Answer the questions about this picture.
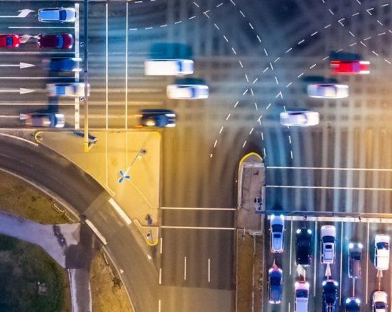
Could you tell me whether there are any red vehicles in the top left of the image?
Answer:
Yes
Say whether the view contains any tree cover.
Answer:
No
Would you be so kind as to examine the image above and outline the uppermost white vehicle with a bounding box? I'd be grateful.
[146,57,192,76]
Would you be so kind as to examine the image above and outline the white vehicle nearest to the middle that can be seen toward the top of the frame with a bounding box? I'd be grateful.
[168,83,208,100]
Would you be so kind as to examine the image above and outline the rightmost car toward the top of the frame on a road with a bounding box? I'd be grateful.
[330,58,368,75]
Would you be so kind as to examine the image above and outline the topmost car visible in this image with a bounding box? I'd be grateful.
[38,5,76,23]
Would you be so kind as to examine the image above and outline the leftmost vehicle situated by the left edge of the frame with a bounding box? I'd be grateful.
[0,31,22,49]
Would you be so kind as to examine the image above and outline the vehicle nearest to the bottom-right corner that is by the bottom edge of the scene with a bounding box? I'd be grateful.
[371,289,389,312]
